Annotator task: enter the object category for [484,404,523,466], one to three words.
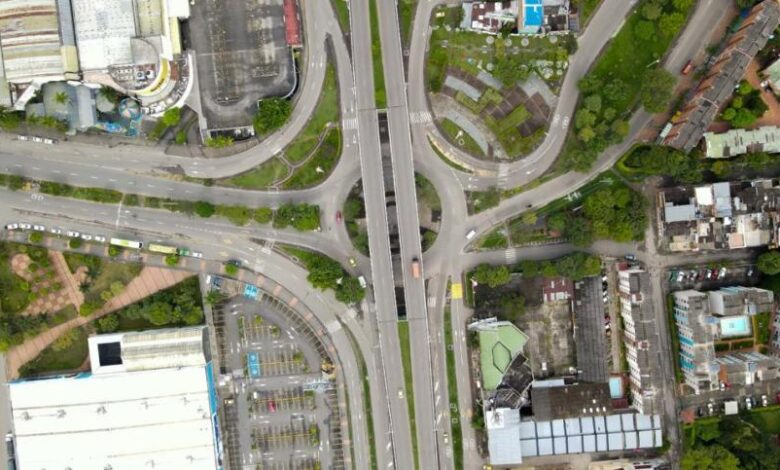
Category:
building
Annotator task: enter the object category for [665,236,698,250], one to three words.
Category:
house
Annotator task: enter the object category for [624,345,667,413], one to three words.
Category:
building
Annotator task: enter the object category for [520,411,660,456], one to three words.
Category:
shed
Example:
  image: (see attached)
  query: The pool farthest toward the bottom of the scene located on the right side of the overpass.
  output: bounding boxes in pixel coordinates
[609,373,631,399]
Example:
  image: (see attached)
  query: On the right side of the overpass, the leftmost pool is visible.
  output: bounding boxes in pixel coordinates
[516,0,544,36]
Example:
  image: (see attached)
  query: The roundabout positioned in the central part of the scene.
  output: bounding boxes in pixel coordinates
[330,146,471,285]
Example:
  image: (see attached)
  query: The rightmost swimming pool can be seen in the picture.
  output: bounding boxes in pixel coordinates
[719,315,752,337]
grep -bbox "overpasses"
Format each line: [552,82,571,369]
[350,0,440,470]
